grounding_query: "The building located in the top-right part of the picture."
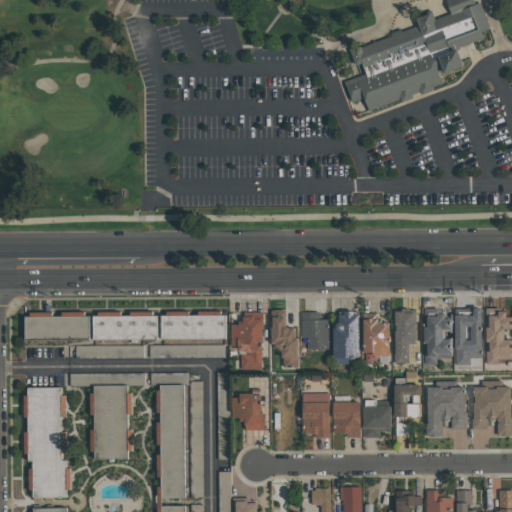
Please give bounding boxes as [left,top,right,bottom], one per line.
[342,0,490,110]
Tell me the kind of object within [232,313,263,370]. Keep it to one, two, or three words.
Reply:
house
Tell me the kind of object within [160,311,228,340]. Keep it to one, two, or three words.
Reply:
building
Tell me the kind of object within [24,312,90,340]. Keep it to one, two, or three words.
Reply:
building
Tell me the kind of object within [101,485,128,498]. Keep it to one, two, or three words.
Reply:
swimming pool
